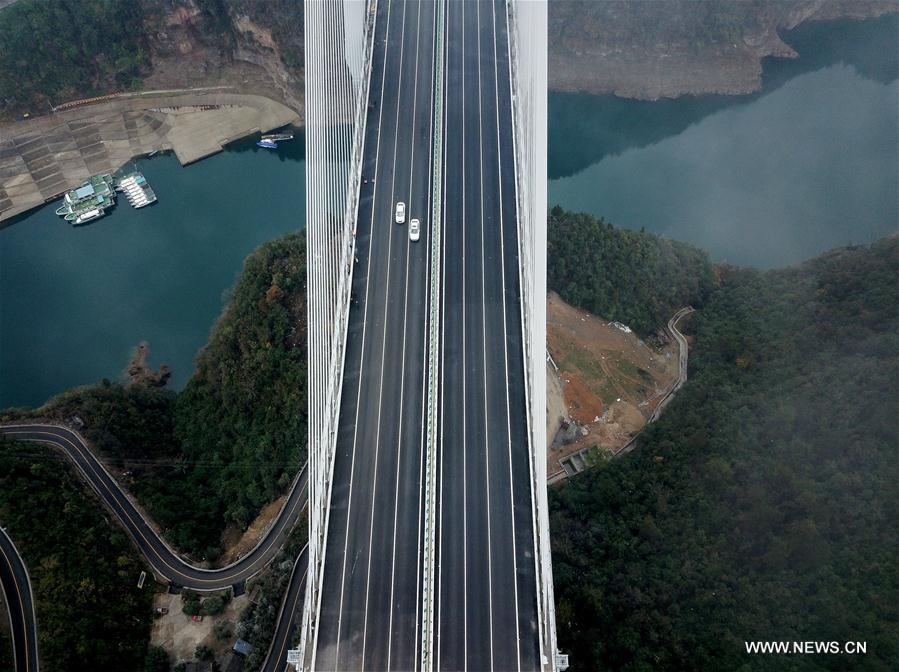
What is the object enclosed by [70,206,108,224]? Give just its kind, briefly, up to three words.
boat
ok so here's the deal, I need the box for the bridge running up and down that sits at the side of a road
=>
[284,0,573,672]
